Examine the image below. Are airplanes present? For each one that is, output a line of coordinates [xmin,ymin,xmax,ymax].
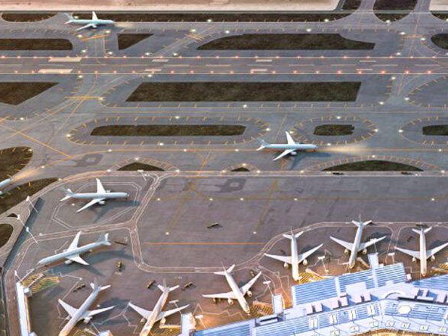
[197,261,267,312]
[39,230,112,266]
[258,230,329,280]
[58,179,129,212]
[255,131,318,160]
[389,224,448,276]
[56,279,118,336]
[126,279,191,336]
[61,11,115,30]
[324,217,391,267]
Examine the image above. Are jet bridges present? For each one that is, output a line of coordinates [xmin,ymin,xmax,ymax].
[21,266,38,287]
[356,254,370,270]
[433,260,448,273]
[26,270,47,297]
[151,321,180,334]
[249,299,273,315]
[304,266,338,279]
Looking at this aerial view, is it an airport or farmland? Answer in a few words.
airport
